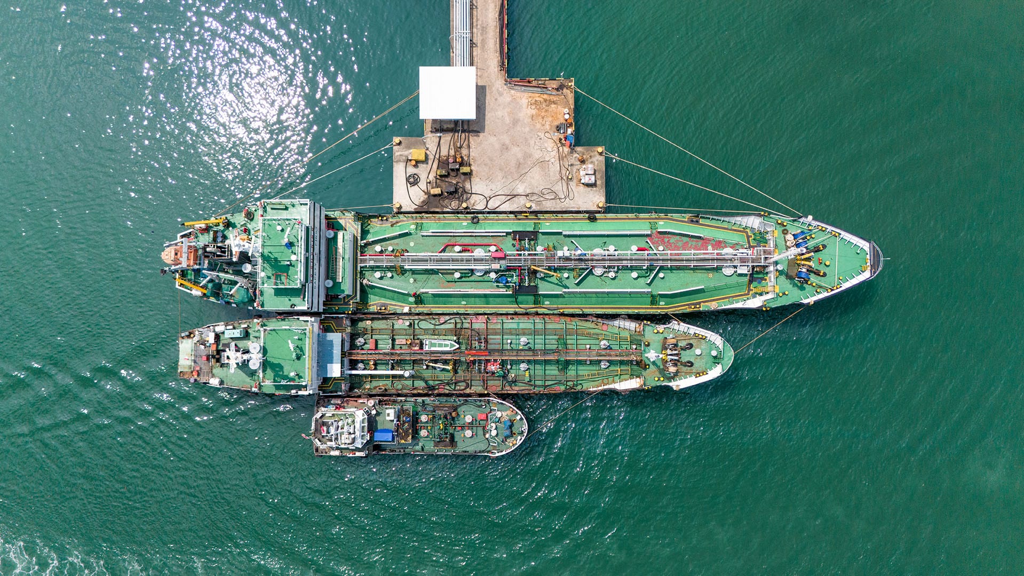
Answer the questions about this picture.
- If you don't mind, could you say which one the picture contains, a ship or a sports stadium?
ship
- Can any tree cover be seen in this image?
No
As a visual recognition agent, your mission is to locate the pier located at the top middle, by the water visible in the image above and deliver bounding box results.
[393,0,605,216]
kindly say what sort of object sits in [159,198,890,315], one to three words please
ship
